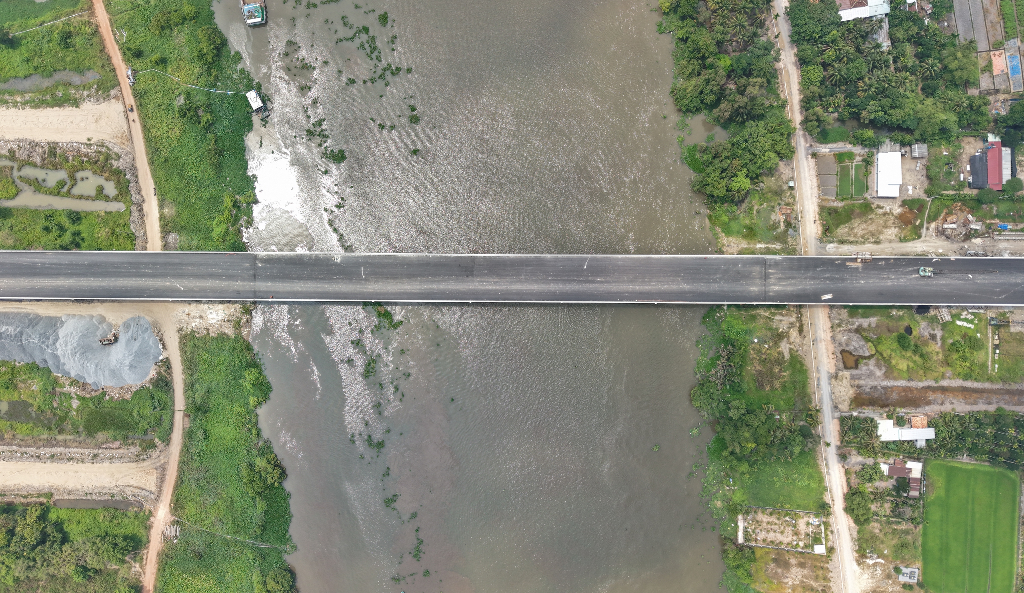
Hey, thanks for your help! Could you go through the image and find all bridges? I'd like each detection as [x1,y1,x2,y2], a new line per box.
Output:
[0,251,1024,306]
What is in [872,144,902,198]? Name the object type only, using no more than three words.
house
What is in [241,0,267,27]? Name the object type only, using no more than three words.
ship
